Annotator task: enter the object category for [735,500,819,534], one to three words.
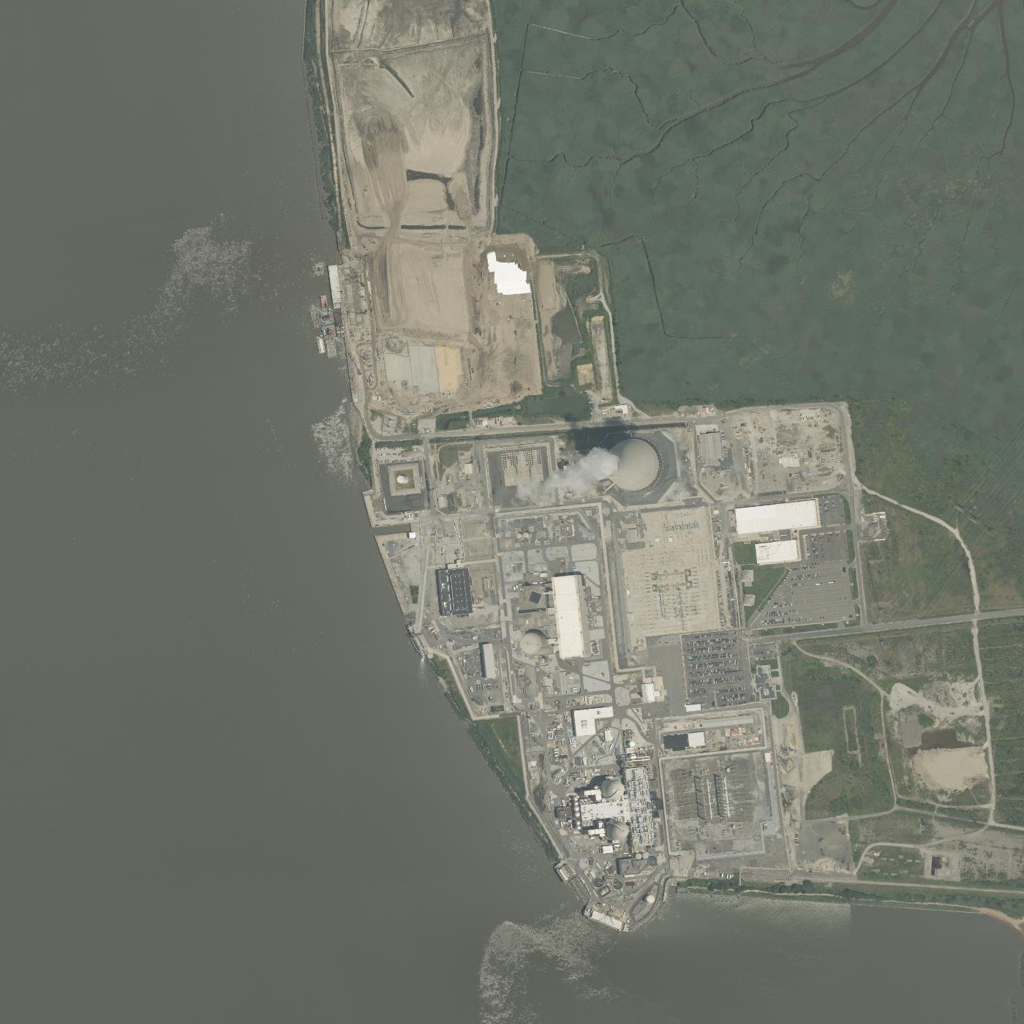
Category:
building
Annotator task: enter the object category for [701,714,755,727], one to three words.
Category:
shed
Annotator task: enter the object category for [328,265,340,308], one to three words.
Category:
ship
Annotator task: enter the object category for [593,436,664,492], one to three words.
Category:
cooling tower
